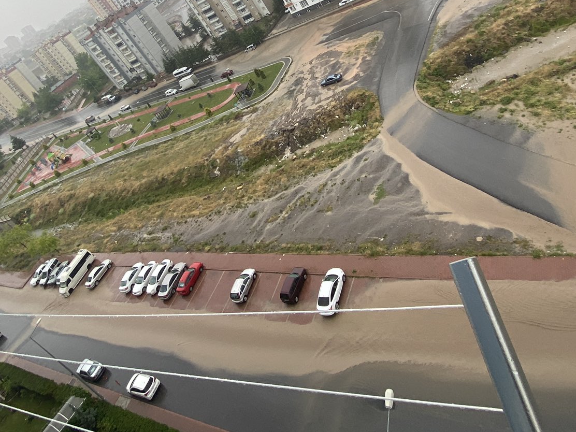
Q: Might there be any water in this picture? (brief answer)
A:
Yes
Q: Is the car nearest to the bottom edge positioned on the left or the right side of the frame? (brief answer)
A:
left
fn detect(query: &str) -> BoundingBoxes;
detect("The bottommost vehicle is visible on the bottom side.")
[122,372,160,403]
